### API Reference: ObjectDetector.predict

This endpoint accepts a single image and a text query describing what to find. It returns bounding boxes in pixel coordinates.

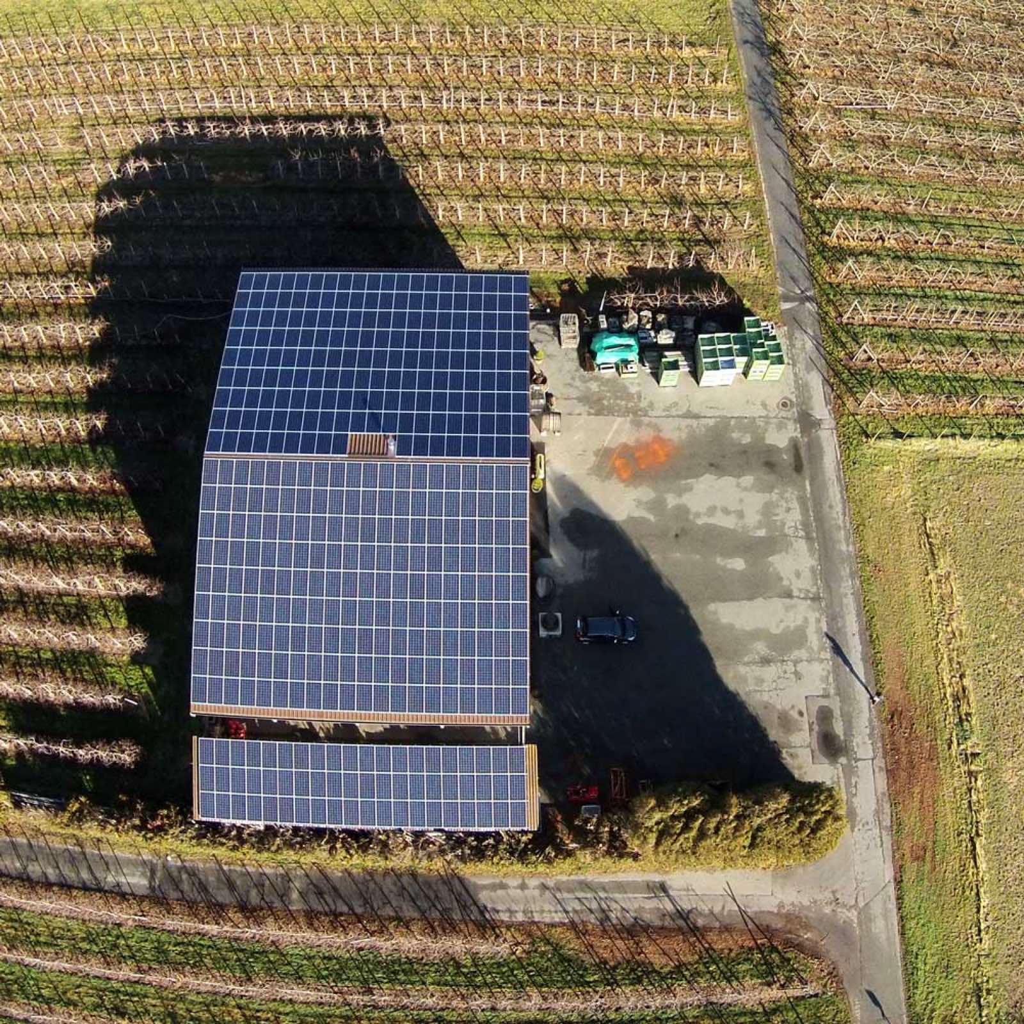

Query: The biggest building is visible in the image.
[188,266,534,753]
